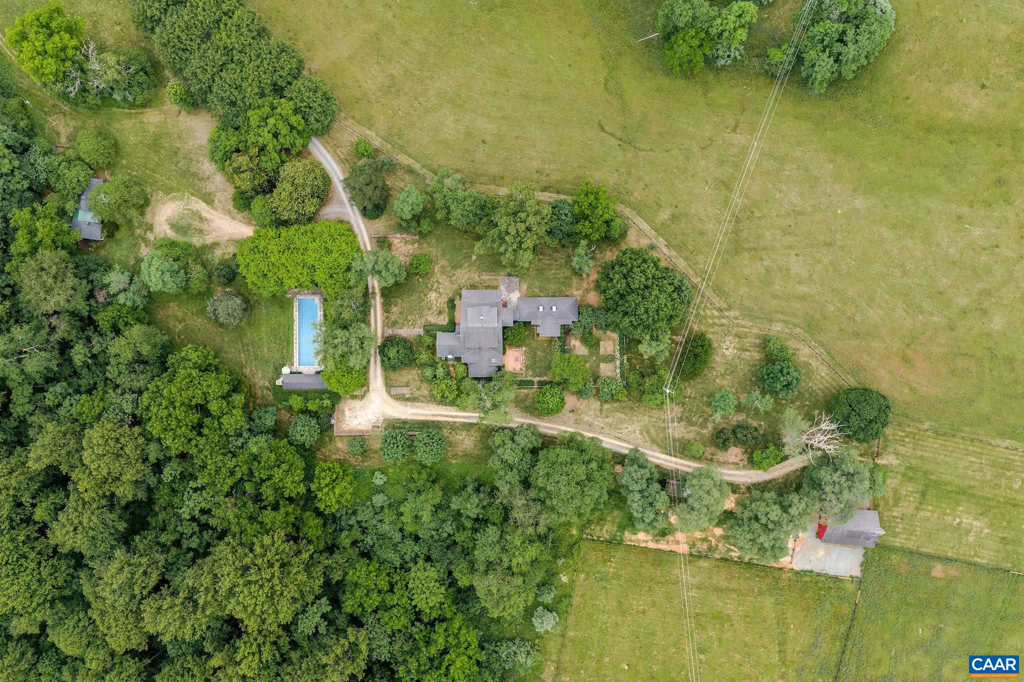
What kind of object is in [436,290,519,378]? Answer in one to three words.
house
